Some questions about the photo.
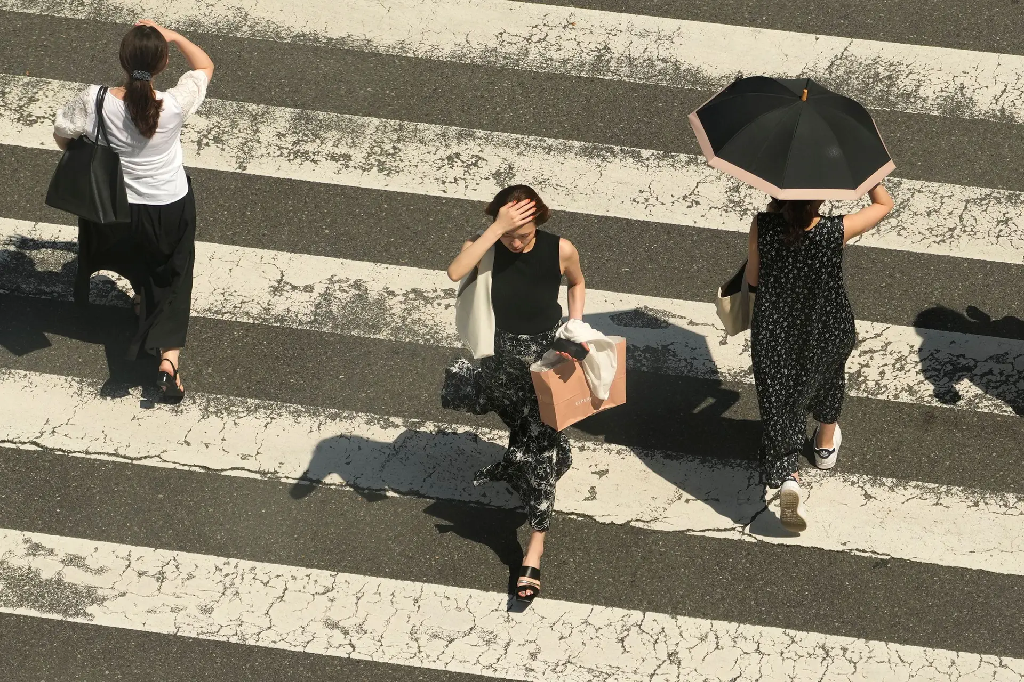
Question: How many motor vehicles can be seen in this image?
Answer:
0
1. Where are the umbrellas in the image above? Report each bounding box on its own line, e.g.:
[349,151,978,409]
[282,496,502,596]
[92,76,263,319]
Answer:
[687,75,899,200]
